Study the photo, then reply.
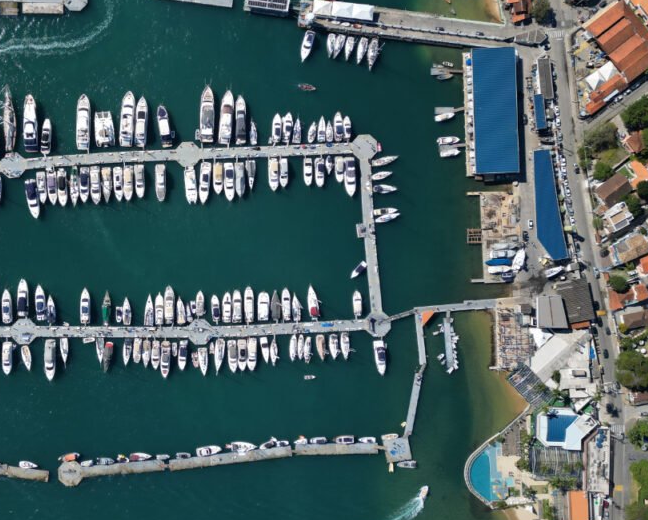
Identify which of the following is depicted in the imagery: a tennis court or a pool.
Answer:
pool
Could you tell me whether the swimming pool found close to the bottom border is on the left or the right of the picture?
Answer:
right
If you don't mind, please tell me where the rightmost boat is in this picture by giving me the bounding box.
[546,264,566,278]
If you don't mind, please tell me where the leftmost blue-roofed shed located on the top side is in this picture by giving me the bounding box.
[464,43,520,173]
